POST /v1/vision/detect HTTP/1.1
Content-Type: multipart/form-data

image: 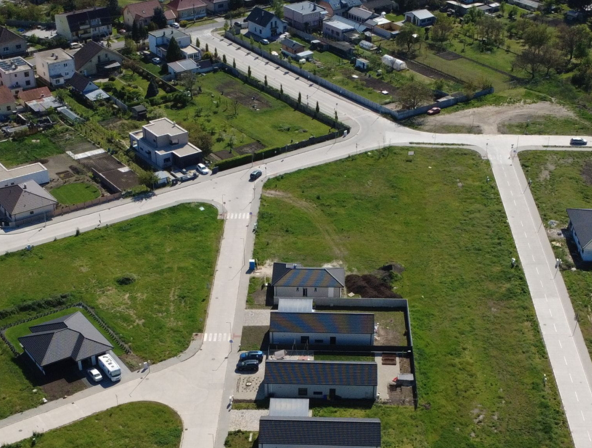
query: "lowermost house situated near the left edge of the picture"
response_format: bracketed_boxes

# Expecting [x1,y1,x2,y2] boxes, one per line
[22,309,114,376]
